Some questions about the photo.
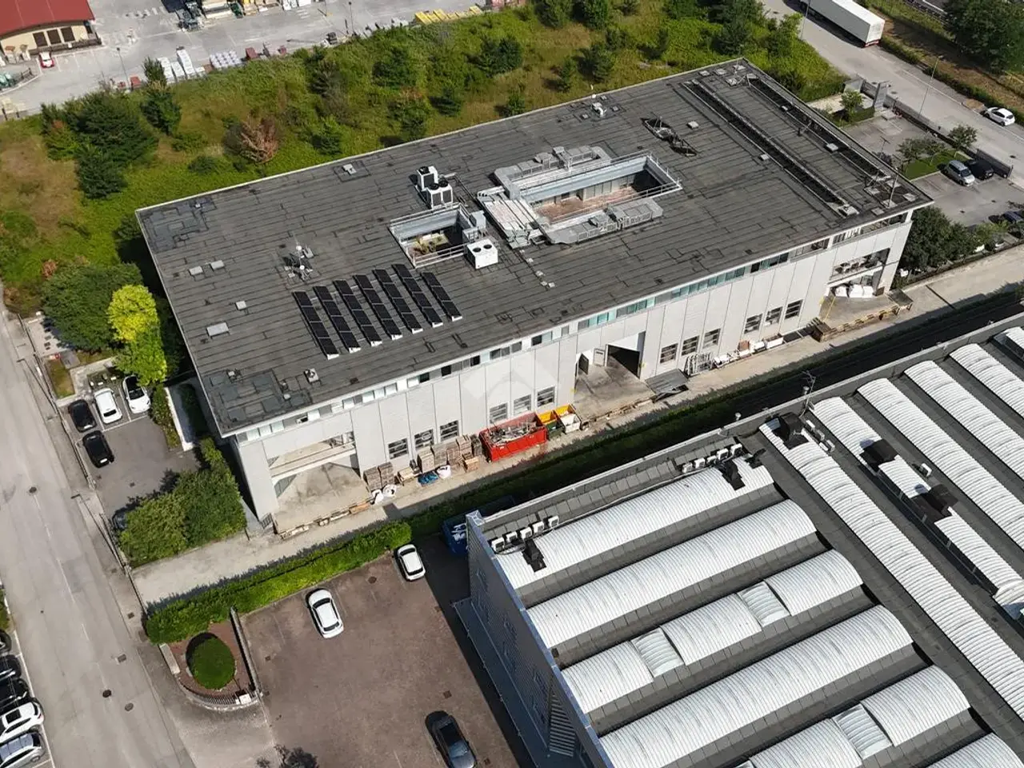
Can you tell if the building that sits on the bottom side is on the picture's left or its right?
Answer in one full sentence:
You can find the building that sits on the bottom side on the right side of the picture.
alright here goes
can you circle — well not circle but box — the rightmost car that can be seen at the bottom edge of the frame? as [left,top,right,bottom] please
[427,707,474,768]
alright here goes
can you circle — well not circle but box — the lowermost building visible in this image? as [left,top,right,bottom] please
[457,312,1024,768]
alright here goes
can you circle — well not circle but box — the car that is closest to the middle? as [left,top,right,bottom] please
[393,544,429,586]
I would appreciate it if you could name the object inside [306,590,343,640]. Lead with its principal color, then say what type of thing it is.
white car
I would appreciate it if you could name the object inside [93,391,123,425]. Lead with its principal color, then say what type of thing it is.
white car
